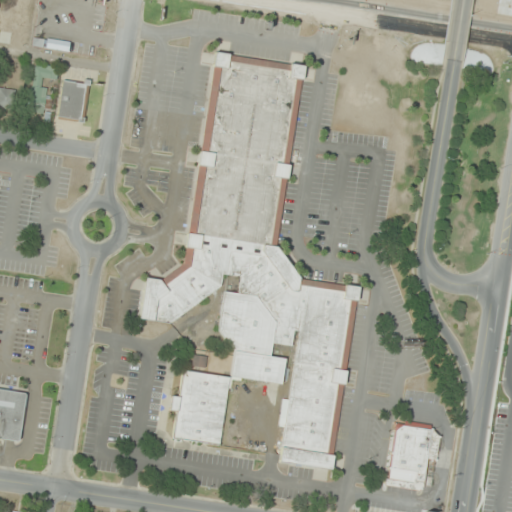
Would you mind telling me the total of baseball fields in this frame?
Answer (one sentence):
No baseball fields are visible.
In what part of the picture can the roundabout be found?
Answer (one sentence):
The roundabout is located in the left region of the scene.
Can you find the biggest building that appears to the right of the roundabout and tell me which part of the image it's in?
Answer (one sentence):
You can find the biggest building that appears to the right of the roundabout in the center area of the picture.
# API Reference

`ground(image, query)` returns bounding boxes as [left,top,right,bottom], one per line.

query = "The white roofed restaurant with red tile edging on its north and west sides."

[386,422,442,490]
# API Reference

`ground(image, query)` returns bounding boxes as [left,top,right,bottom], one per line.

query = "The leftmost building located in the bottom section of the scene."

[0,388,30,441]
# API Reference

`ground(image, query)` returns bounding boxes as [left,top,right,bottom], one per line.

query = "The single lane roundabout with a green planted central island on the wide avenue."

[68,198,126,254]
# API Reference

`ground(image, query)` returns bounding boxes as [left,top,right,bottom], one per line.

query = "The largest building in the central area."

[142,52,362,470]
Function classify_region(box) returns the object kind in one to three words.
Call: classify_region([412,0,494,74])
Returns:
overpass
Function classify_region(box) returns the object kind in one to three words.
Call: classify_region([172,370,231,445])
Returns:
building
